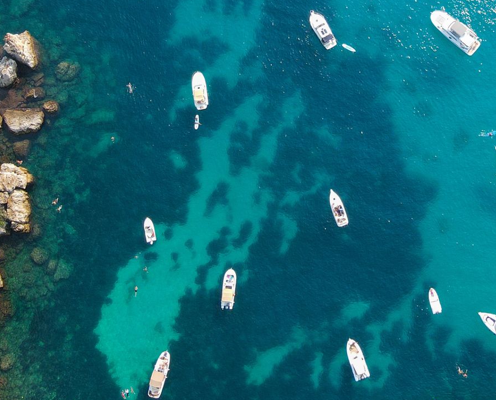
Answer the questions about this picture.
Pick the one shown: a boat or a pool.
boat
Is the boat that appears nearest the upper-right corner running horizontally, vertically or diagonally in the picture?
diagonally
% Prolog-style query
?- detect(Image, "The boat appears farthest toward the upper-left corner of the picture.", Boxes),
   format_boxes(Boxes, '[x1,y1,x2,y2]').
[192,71,209,114]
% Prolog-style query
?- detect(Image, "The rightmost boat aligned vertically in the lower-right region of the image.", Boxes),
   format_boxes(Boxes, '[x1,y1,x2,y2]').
[428,287,443,315]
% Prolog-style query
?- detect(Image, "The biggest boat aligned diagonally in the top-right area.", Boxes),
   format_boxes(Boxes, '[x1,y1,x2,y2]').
[431,10,485,60]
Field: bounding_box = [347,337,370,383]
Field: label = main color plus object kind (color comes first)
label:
white boat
